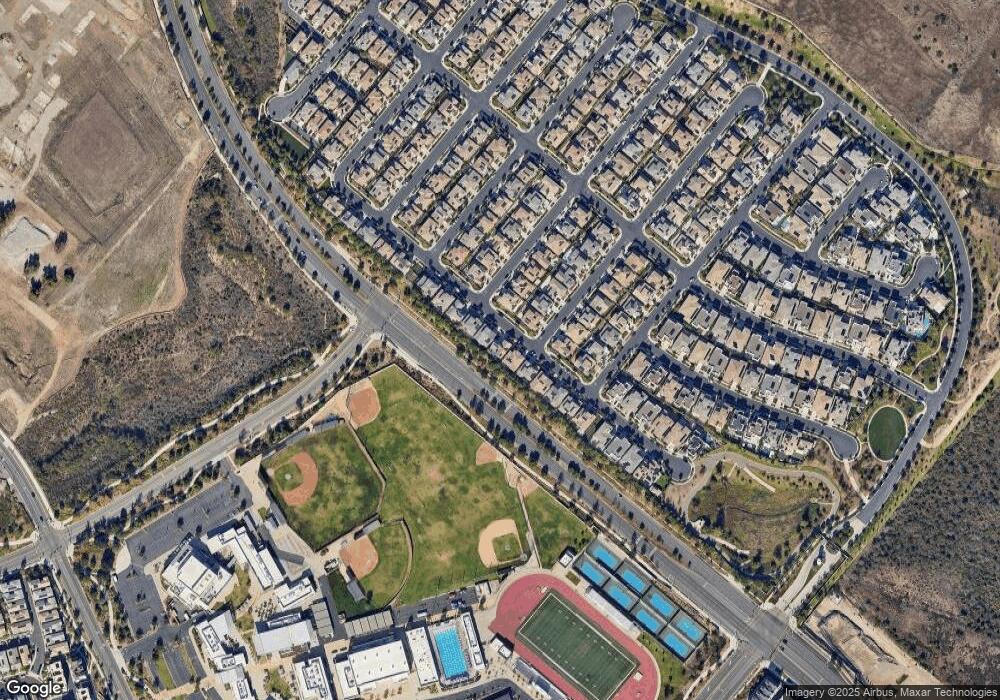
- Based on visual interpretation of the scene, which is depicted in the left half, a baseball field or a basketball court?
baseball field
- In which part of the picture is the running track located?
bottom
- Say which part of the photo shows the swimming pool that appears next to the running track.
bottom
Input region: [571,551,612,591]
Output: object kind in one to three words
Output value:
tennis court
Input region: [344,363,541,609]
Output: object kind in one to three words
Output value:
sports field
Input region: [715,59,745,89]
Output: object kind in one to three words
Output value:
house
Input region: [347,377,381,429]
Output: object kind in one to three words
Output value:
baseball field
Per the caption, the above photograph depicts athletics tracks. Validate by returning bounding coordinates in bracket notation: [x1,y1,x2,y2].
[494,575,660,700]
